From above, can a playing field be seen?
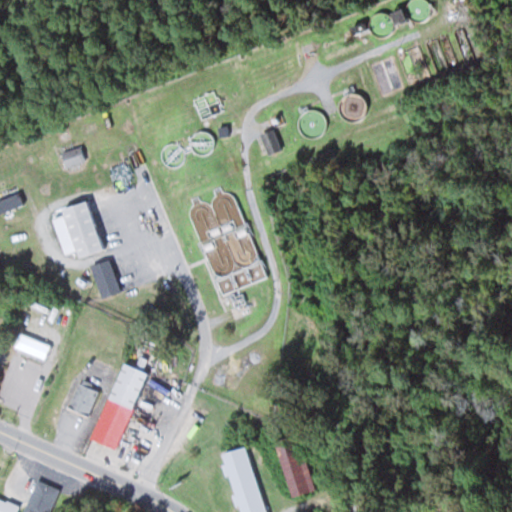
No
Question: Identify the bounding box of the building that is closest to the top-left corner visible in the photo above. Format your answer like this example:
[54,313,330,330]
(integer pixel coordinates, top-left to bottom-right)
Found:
[62,146,87,168]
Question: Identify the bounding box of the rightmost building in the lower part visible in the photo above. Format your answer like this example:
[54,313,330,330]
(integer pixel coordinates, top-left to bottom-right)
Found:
[276,444,314,498]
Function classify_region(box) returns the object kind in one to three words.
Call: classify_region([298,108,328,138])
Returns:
storage tank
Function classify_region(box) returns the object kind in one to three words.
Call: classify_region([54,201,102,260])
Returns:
building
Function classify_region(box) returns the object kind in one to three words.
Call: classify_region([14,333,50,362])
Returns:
building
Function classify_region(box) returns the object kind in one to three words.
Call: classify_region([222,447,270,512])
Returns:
barn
